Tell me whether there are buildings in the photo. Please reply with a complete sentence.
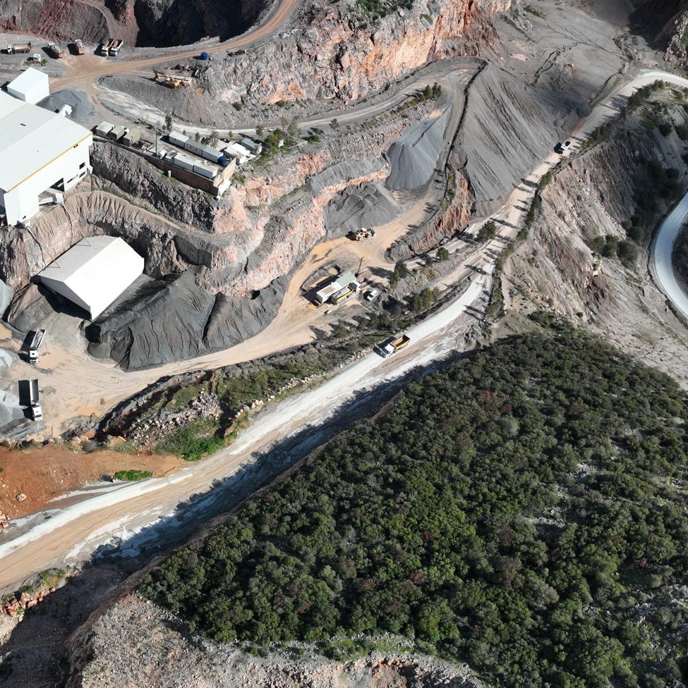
Yes, the image includes a building.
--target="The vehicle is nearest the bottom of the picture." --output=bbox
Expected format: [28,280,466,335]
[30,380,45,422]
